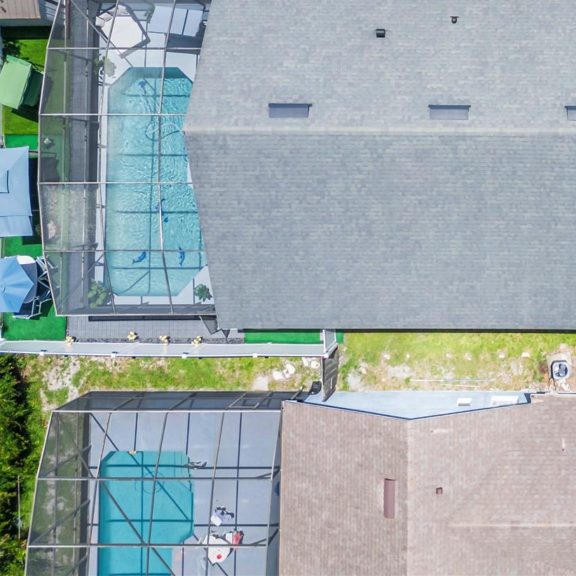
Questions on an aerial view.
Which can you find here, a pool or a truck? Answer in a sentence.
Of the two, only a pool appears.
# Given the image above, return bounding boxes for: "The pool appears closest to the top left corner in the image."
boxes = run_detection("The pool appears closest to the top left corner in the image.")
[106,68,208,296]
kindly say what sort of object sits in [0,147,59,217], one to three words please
umbrella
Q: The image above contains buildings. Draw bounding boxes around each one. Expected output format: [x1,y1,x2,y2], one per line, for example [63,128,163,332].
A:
[281,391,576,576]
[182,0,576,331]
[0,0,65,22]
